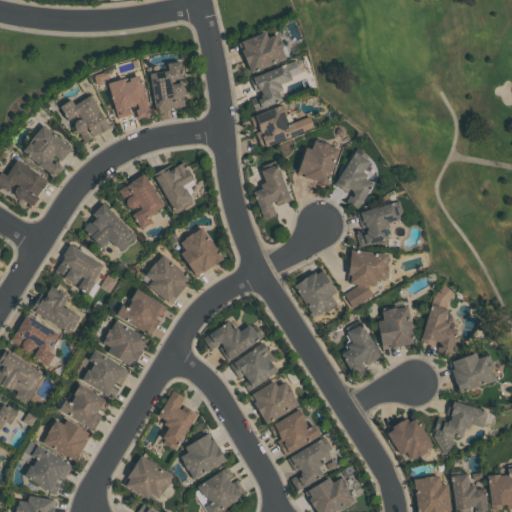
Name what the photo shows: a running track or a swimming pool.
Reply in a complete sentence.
It is a swimming pool that can be seen here.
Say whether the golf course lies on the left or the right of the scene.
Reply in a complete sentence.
The golf course sits on the right side.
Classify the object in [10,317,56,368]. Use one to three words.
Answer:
house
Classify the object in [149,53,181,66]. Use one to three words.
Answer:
swimming pool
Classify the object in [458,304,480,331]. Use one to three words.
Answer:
swimming pool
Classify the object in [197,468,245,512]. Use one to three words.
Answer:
house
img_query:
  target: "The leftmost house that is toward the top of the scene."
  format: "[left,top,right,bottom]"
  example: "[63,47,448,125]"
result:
[0,160,46,206]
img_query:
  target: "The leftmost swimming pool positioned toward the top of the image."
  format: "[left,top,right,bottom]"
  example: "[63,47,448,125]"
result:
[13,130,29,148]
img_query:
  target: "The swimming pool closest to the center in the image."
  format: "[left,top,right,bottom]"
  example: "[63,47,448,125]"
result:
[186,215,212,230]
